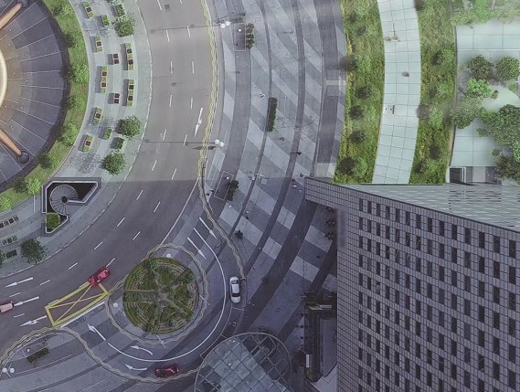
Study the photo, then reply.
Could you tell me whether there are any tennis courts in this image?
No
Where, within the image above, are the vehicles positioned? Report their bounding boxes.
[88,266,111,285]
[154,362,178,376]
[229,275,240,302]
[0,301,15,313]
